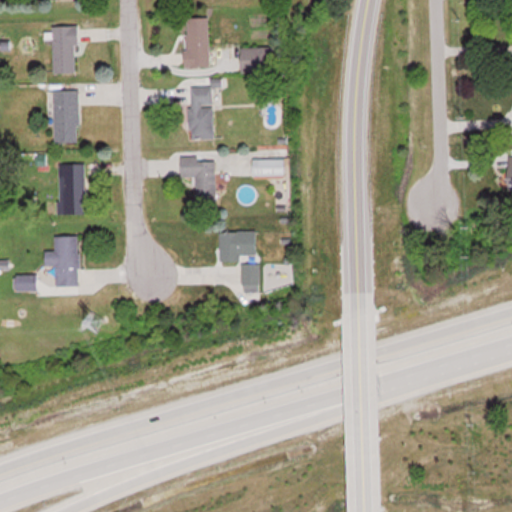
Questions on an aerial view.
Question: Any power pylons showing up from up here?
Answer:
Yes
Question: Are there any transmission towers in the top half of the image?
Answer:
No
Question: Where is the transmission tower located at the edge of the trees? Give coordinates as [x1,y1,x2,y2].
[80,308,106,334]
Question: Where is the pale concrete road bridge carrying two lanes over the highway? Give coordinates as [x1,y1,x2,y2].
[341,302,380,466]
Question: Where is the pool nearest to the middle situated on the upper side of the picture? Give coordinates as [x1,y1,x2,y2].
[234,184,258,206]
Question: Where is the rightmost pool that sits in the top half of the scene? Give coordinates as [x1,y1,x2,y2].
[262,104,282,130]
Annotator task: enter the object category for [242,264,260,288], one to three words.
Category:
building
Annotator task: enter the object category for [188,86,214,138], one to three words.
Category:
house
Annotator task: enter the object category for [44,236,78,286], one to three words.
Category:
house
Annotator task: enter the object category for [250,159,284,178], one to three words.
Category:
shed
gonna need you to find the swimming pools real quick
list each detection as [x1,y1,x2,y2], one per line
[234,184,258,206]
[262,104,282,130]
